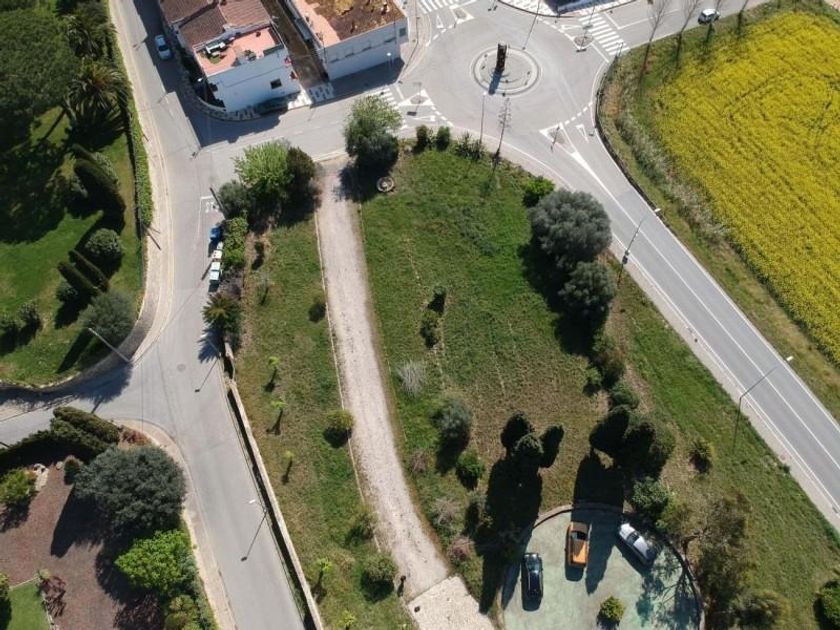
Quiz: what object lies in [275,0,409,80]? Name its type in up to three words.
building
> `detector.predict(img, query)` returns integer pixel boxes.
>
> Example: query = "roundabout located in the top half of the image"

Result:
[421,13,594,136]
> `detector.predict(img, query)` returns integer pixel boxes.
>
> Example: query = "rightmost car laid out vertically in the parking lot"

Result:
[568,523,590,568]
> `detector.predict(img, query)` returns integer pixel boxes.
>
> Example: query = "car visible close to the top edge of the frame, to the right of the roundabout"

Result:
[696,9,722,25]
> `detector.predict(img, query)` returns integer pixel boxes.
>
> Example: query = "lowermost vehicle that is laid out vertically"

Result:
[522,553,542,598]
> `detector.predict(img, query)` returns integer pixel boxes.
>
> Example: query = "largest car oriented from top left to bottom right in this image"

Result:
[617,522,658,565]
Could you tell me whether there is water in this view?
No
